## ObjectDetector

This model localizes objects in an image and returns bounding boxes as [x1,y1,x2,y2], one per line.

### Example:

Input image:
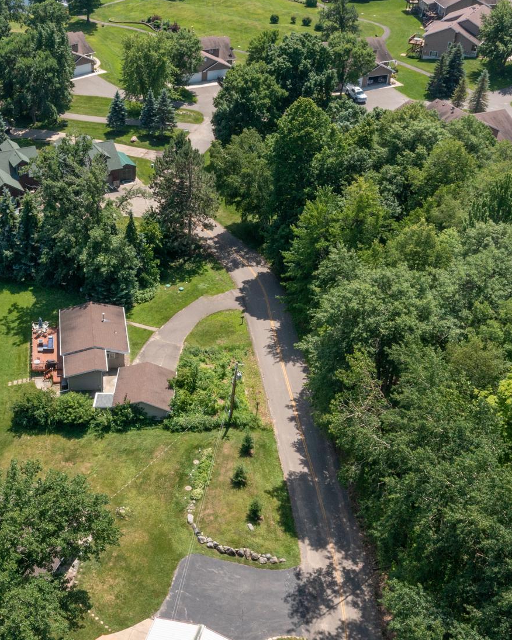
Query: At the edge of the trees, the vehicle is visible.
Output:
[349,88,364,102]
